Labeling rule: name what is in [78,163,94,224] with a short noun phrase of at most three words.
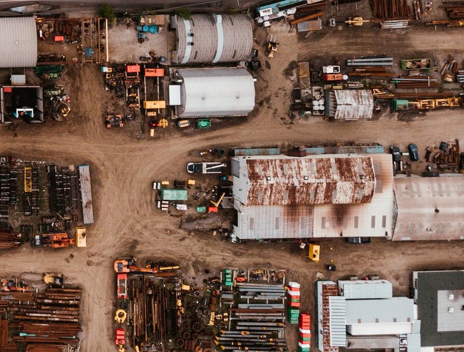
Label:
trailer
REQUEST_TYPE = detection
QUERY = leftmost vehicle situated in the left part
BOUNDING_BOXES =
[0,276,32,291]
